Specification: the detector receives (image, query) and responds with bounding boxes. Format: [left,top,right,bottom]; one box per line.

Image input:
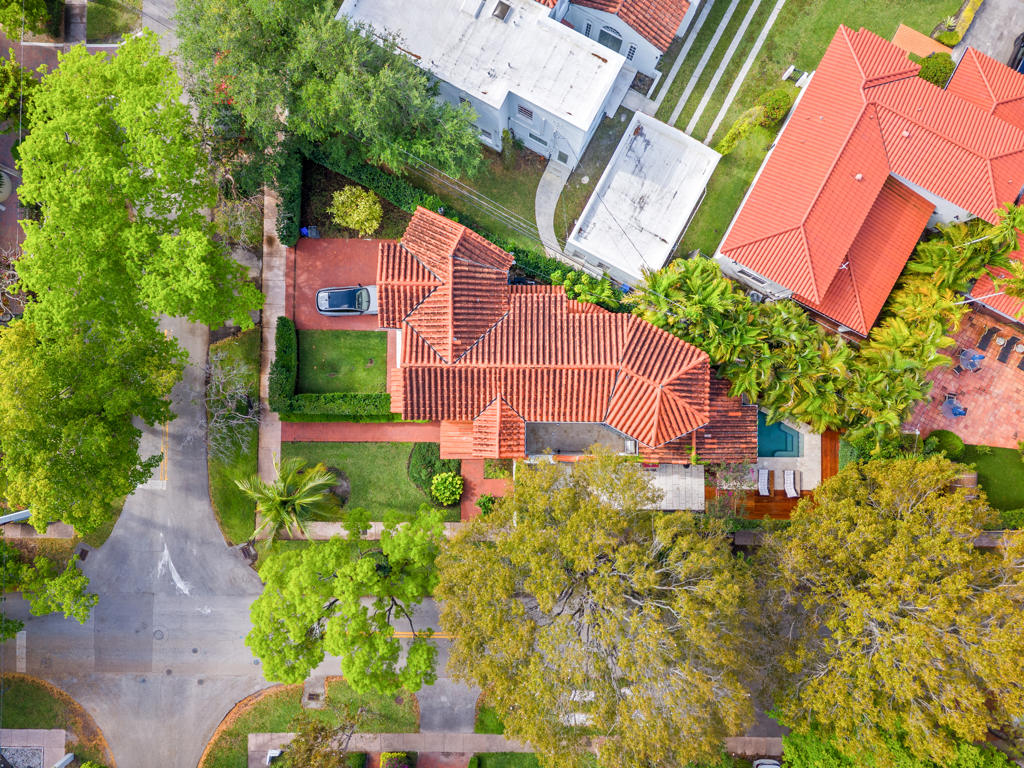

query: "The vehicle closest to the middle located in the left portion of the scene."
[311,280,379,318]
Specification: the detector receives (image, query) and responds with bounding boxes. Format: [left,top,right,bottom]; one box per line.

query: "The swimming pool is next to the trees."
[757,412,805,457]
